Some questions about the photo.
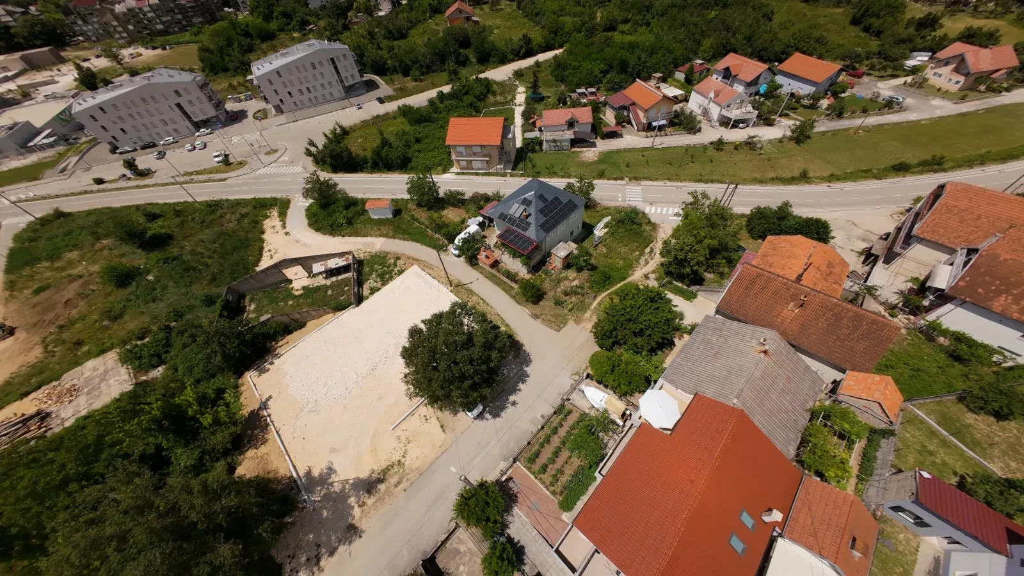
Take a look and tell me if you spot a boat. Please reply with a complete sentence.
Yes, there's a boat here.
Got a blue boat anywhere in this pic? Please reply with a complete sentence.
No, the frame has no blue boat in it.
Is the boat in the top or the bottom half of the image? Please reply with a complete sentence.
The boat is in the bottom half of the image.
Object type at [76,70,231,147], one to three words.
building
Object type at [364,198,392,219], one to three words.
shed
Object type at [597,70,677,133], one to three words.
house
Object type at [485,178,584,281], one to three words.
house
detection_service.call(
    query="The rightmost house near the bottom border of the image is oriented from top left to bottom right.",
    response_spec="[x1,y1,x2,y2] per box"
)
[858,471,1024,576]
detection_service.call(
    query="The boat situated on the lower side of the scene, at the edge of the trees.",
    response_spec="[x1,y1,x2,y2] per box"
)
[583,381,634,421]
